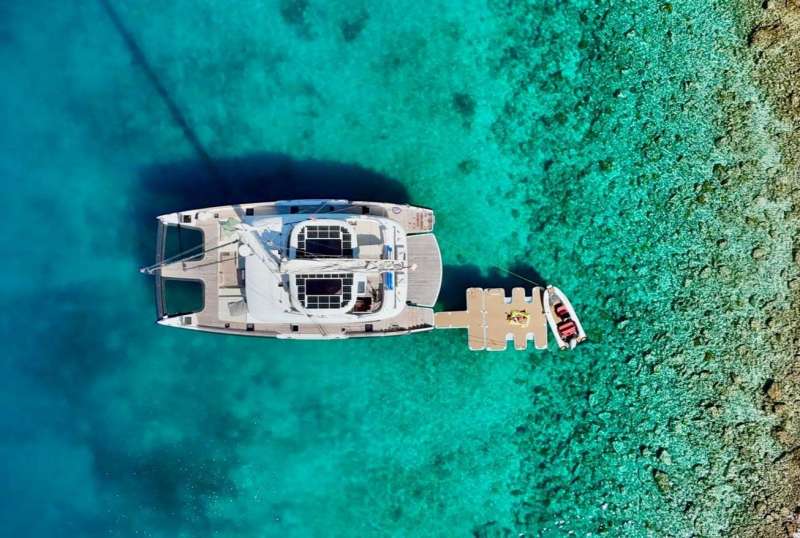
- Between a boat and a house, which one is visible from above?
boat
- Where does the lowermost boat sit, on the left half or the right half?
right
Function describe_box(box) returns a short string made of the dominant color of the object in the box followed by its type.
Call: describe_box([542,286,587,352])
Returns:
white boat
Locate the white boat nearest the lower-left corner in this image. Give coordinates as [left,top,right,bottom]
[140,199,441,339]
